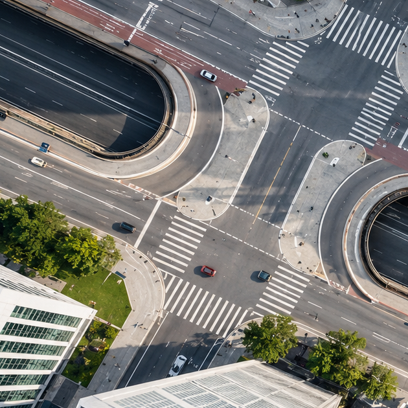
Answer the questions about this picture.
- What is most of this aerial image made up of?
paved ground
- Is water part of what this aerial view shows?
No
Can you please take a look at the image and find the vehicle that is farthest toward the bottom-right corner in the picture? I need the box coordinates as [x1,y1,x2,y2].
[254,270,274,283]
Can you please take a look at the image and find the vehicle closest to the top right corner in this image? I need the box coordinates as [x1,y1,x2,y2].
[199,69,218,83]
